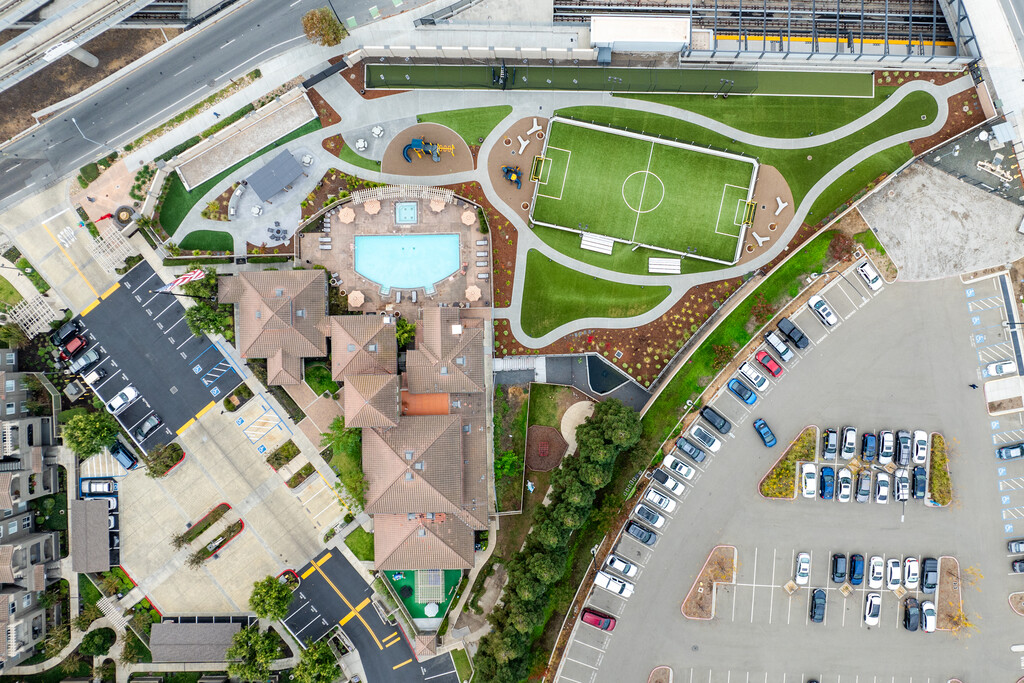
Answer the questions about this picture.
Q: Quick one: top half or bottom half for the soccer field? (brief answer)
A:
top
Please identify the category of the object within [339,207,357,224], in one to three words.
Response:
umbrella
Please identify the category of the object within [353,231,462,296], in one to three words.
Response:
swimming pool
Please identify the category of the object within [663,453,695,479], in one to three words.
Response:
car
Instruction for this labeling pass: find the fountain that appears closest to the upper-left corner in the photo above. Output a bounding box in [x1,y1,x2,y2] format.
[112,205,133,225]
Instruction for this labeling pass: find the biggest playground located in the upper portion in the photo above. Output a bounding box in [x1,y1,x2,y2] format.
[402,133,456,163]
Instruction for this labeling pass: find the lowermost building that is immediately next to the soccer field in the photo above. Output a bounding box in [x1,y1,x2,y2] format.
[217,270,488,570]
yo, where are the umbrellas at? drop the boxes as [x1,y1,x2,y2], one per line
[465,285,482,302]
[364,199,381,216]
[339,207,357,224]
[460,210,477,227]
[424,600,439,615]
[348,290,365,307]
[430,198,446,215]
[400,584,413,597]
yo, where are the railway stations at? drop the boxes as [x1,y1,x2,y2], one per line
[553,0,981,65]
